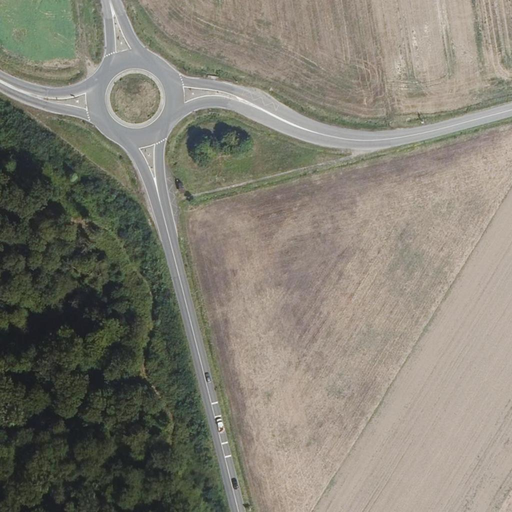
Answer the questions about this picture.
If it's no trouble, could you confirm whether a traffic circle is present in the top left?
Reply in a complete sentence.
Yes, a traffic circle appears in the top left.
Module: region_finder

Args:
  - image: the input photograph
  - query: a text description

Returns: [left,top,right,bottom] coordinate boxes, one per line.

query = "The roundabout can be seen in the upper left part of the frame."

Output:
[84,42,186,149]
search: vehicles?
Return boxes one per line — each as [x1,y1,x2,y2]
[205,372,211,382]
[232,478,238,490]
[216,419,224,432]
